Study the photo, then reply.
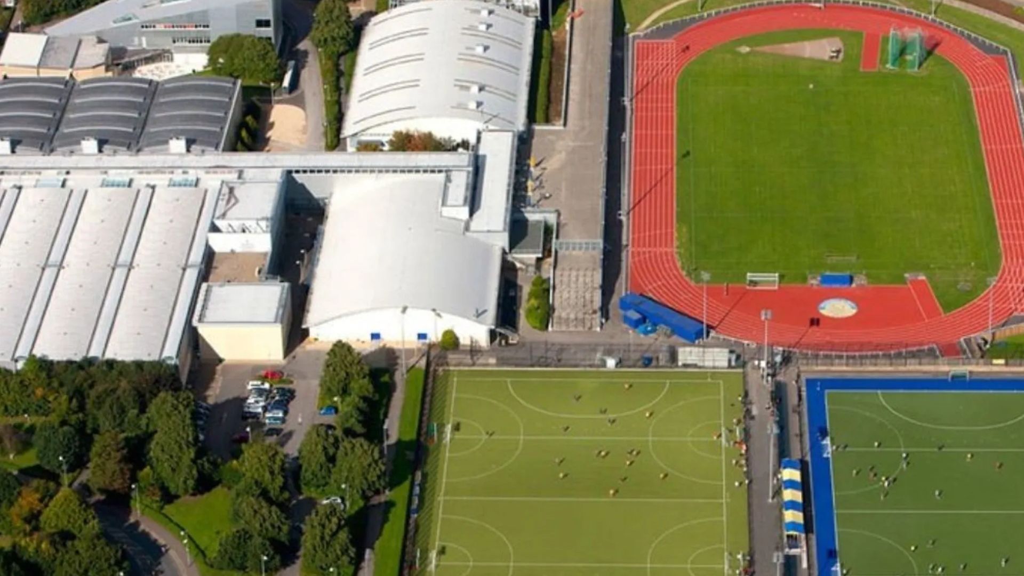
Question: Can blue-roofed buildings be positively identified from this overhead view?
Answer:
Yes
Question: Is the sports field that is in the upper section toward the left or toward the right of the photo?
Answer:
right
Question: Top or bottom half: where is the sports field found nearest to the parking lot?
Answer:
bottom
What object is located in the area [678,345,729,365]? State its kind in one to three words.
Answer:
building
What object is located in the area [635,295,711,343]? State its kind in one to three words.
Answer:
building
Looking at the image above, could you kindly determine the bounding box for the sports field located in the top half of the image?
[676,31,1002,312]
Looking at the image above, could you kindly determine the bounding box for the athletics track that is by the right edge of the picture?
[618,0,1024,357]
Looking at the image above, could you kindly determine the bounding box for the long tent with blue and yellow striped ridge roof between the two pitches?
[781,458,805,544]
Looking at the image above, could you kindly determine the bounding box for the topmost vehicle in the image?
[279,63,294,92]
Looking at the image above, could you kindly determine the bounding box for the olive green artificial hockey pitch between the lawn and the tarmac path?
[405,372,750,576]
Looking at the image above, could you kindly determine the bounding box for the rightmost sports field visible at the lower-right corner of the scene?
[806,379,1024,576]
